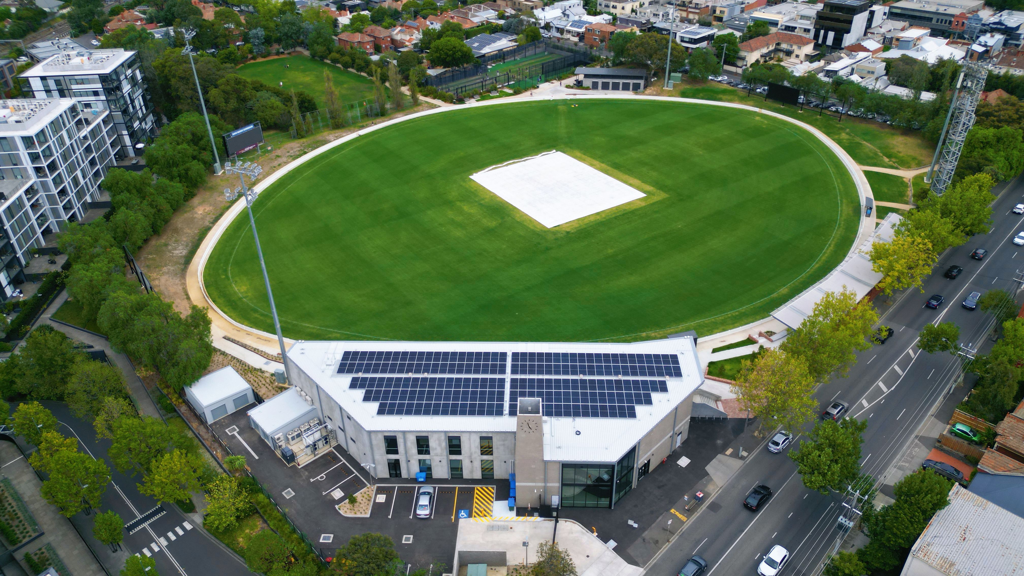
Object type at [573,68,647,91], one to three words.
shed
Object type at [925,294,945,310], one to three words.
car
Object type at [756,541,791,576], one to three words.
car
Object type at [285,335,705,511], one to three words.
building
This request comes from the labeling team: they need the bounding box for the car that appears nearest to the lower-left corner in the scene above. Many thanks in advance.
[415,486,435,519]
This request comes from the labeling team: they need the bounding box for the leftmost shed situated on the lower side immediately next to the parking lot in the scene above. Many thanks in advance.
[182,364,256,426]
